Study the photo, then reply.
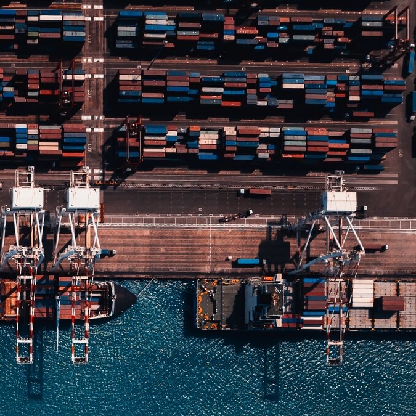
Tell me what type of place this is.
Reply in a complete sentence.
The picture captures a port.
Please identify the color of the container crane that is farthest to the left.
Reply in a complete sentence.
The container crane that is farthest to the left looks white in the image.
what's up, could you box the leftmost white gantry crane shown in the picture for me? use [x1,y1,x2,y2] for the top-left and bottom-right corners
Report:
[0,163,50,364]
